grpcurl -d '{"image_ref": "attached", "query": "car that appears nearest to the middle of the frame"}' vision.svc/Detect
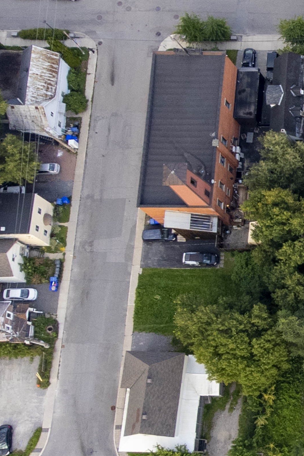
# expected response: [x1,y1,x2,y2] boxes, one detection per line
[142,229,177,243]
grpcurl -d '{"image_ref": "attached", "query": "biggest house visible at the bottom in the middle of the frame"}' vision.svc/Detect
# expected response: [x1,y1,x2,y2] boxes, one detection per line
[118,351,224,454]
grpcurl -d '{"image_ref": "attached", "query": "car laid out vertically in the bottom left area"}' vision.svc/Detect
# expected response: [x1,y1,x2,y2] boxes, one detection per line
[0,422,16,456]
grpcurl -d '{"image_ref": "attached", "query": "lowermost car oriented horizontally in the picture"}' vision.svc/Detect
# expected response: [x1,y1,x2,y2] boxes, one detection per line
[3,286,38,302]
